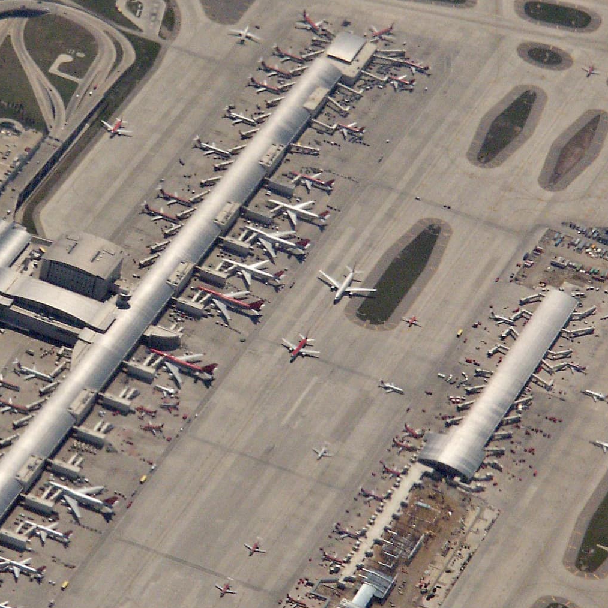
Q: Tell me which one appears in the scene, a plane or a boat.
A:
plane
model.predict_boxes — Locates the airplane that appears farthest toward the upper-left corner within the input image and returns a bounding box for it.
[102,112,132,136]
